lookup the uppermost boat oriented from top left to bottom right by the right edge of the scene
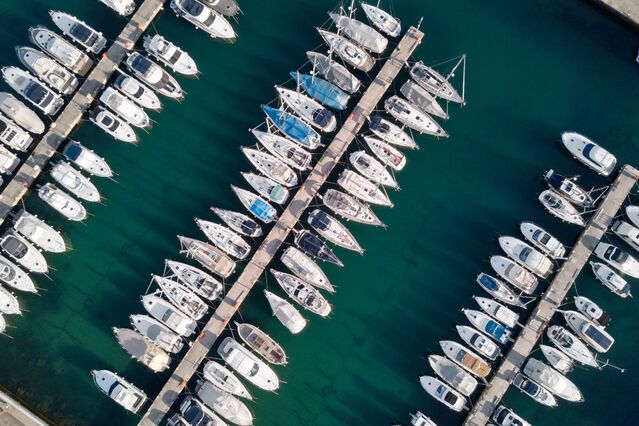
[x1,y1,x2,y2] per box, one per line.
[559,133,623,179]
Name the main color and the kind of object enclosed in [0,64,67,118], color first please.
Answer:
white boat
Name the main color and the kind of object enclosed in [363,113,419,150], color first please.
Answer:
white boat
